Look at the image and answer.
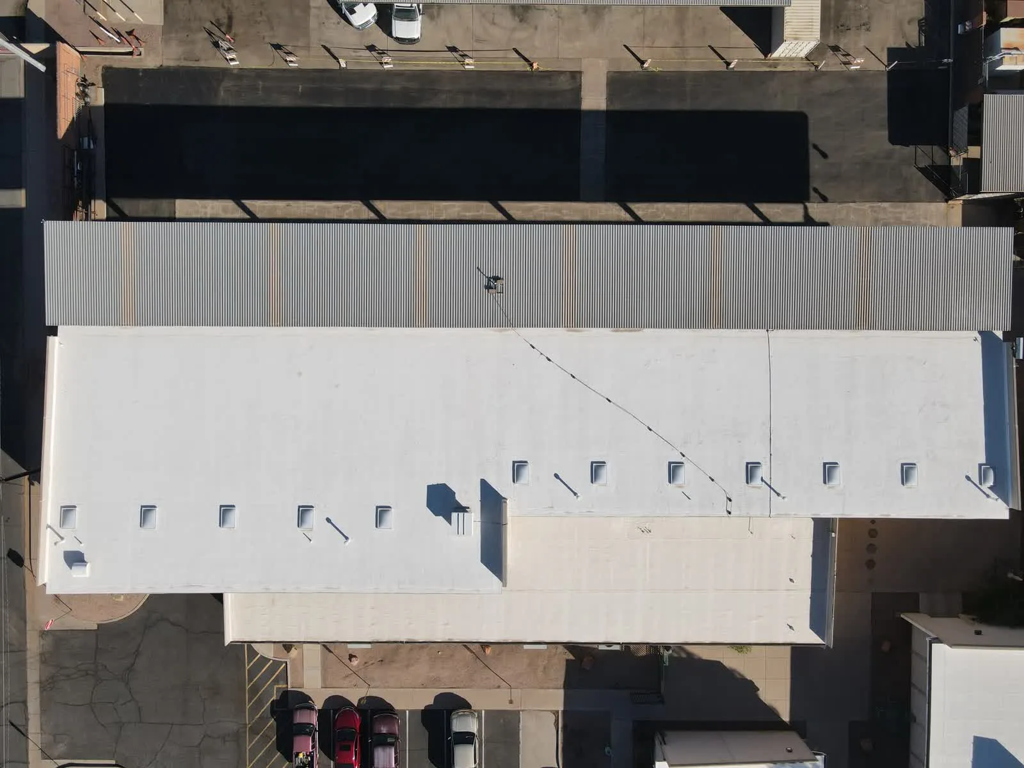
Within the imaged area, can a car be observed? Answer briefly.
Yes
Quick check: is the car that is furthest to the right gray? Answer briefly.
Yes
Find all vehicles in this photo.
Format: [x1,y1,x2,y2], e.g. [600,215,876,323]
[287,701,320,768]
[447,705,481,768]
[335,0,380,33]
[388,8,423,46]
[370,709,403,768]
[331,704,363,768]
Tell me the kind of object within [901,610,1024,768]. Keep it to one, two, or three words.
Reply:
building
